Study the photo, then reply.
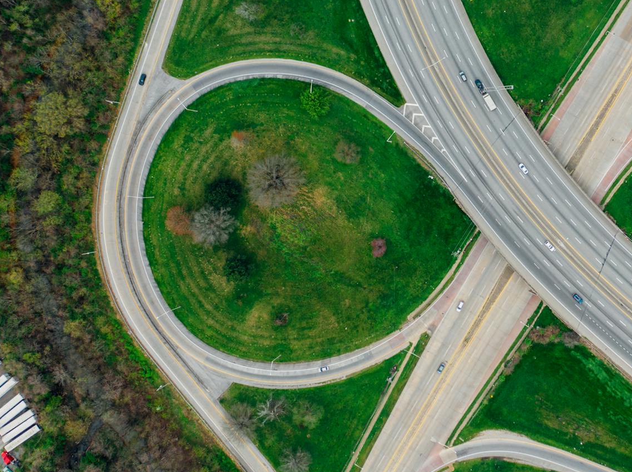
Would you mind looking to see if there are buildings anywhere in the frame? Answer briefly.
No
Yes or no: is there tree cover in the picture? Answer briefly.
Yes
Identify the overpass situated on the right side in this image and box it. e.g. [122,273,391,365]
[453,106,621,328]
